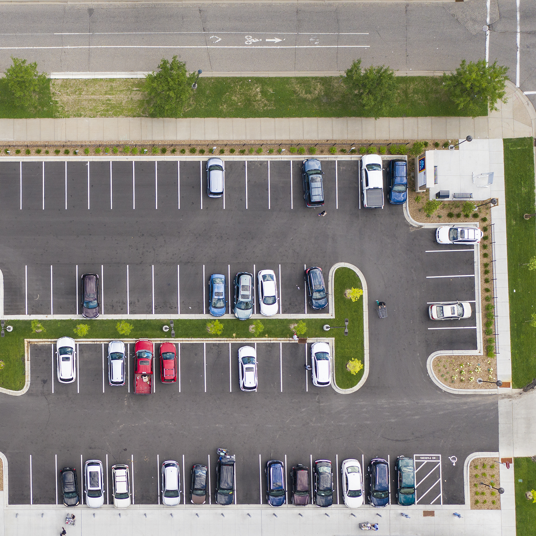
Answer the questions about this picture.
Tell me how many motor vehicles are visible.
29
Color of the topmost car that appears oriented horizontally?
white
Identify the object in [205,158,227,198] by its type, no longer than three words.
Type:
car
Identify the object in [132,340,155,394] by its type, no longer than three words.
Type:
truck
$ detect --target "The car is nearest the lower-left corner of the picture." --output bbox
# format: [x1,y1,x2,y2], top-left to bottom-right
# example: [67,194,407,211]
[59,466,80,507]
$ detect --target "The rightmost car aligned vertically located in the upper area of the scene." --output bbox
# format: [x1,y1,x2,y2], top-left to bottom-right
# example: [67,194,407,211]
[386,158,409,205]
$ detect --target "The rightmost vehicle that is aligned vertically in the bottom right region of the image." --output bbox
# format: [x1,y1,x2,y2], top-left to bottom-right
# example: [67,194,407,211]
[394,456,417,506]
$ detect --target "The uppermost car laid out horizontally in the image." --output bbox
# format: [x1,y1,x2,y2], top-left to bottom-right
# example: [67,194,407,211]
[435,224,485,245]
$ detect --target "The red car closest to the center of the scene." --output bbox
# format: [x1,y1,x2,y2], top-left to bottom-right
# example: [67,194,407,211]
[158,342,179,384]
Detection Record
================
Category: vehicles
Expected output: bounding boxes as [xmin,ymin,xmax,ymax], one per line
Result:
[313,459,335,508]
[189,465,210,505]
[205,158,227,198]
[427,300,471,322]
[386,158,409,205]
[84,459,105,508]
[256,270,279,316]
[435,224,485,245]
[208,274,229,317]
[303,266,329,309]
[214,459,237,506]
[160,460,183,506]
[264,460,287,507]
[233,272,255,320]
[237,346,259,392]
[106,341,128,386]
[56,337,77,384]
[59,466,80,507]
[301,158,325,209]
[111,465,132,509]
[394,456,417,506]
[288,465,312,507]
[309,342,333,387]
[359,154,385,209]
[158,342,179,384]
[132,340,155,394]
[367,458,391,508]
[341,458,364,508]
[80,273,101,319]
